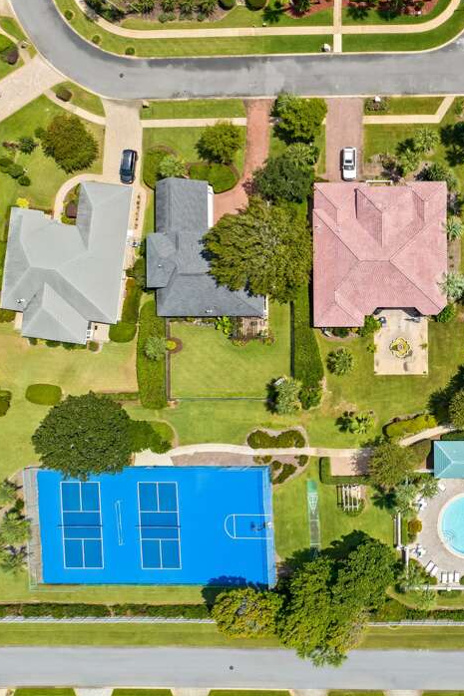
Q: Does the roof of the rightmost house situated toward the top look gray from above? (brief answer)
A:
No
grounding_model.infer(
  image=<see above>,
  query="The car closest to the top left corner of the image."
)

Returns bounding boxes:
[117,149,136,182]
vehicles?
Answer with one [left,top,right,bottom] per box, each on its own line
[117,149,136,182]
[341,146,356,179]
